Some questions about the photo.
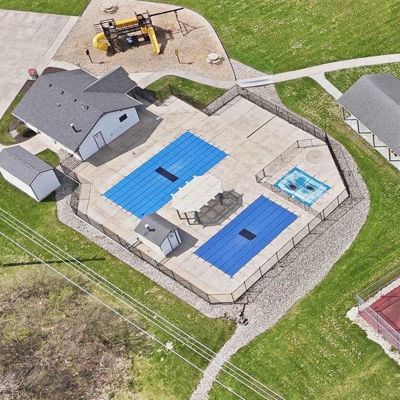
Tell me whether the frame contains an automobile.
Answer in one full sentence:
No, I can't see a single automobile in this photo.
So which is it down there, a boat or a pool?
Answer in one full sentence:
The one in the frame is a pool.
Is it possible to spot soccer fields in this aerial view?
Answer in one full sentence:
No, the scene contains no soccer field.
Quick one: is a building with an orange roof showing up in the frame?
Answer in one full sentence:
No, no building with an orange roof is visible in the scene.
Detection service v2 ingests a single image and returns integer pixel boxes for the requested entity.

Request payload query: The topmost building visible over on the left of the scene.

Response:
[12,65,144,161]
